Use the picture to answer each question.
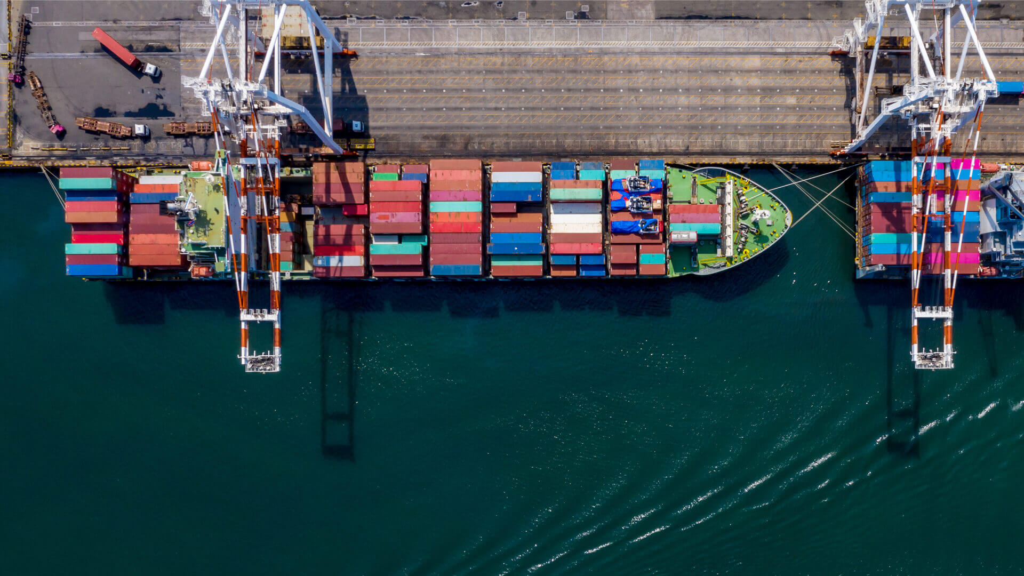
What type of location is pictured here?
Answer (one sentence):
The picture captures a port.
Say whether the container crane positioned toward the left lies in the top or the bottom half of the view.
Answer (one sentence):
Seen from above, the container crane positioned toward the left lies in the top half of the view.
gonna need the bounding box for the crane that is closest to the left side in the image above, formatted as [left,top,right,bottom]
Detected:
[180,0,359,373]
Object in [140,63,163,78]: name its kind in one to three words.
vehicle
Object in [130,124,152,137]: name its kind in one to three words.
vehicle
